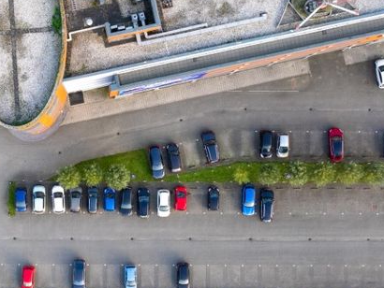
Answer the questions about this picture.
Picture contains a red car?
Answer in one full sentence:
Yes, there is a red car in the image.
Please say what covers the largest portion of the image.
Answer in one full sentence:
The largest share of the image is taken up by paved ground.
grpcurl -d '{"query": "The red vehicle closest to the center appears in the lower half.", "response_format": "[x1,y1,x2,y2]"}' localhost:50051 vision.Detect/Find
[173,185,188,211]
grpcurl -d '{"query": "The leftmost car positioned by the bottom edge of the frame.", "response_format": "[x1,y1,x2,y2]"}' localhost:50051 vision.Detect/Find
[20,265,36,288]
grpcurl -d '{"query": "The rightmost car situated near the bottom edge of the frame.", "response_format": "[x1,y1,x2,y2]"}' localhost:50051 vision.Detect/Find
[176,262,191,288]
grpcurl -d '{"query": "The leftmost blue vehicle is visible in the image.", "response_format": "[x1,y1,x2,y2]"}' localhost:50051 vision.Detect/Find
[13,186,27,211]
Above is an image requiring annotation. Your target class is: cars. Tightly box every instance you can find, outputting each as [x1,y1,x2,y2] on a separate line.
[240,184,257,216]
[258,187,275,222]
[165,142,181,174]
[123,264,138,288]
[31,184,46,214]
[206,186,222,211]
[102,186,117,211]
[70,258,87,288]
[326,127,343,161]
[372,58,384,90]
[120,187,134,216]
[20,265,36,288]
[86,186,99,214]
[69,186,83,211]
[50,185,66,212]
[275,133,291,158]
[156,188,171,218]
[173,185,188,211]
[13,186,27,211]
[201,130,218,164]
[259,130,275,159]
[148,146,165,177]
[176,262,191,288]
[136,187,150,218]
